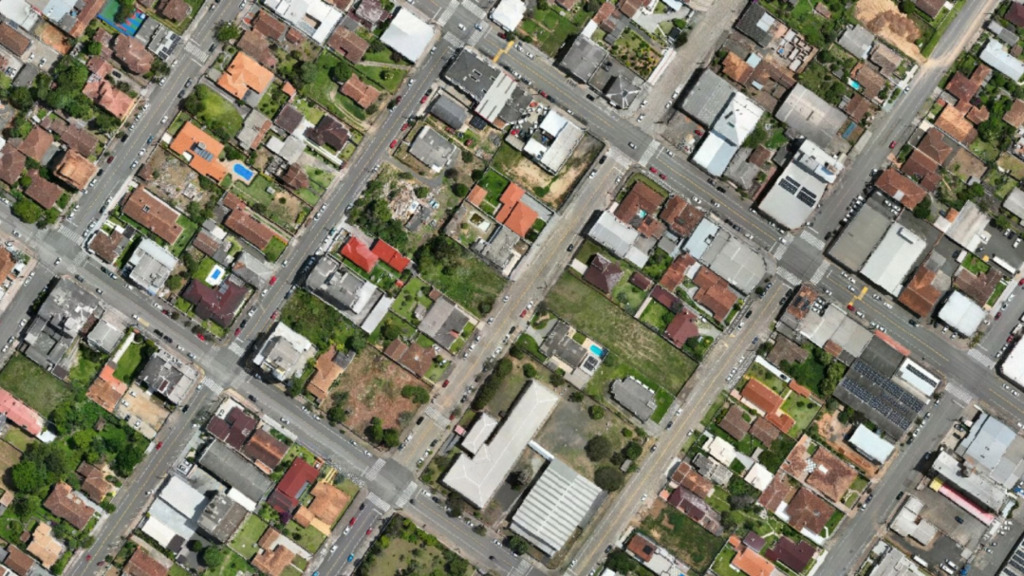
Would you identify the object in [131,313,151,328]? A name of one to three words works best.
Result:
vehicle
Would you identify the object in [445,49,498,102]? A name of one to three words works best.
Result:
building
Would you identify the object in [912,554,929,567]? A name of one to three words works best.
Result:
vehicle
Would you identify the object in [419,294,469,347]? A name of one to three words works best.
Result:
house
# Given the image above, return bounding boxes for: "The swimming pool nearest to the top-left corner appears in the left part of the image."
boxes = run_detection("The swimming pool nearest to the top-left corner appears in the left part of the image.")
[233,163,253,181]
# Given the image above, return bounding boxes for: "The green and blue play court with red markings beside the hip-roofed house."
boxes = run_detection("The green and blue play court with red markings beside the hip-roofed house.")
[97,0,147,37]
